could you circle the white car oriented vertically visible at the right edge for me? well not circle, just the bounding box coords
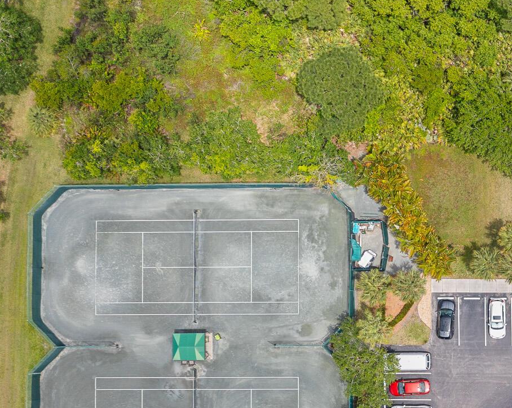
[487,299,506,339]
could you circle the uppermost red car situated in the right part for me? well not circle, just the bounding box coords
[390,378,431,397]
